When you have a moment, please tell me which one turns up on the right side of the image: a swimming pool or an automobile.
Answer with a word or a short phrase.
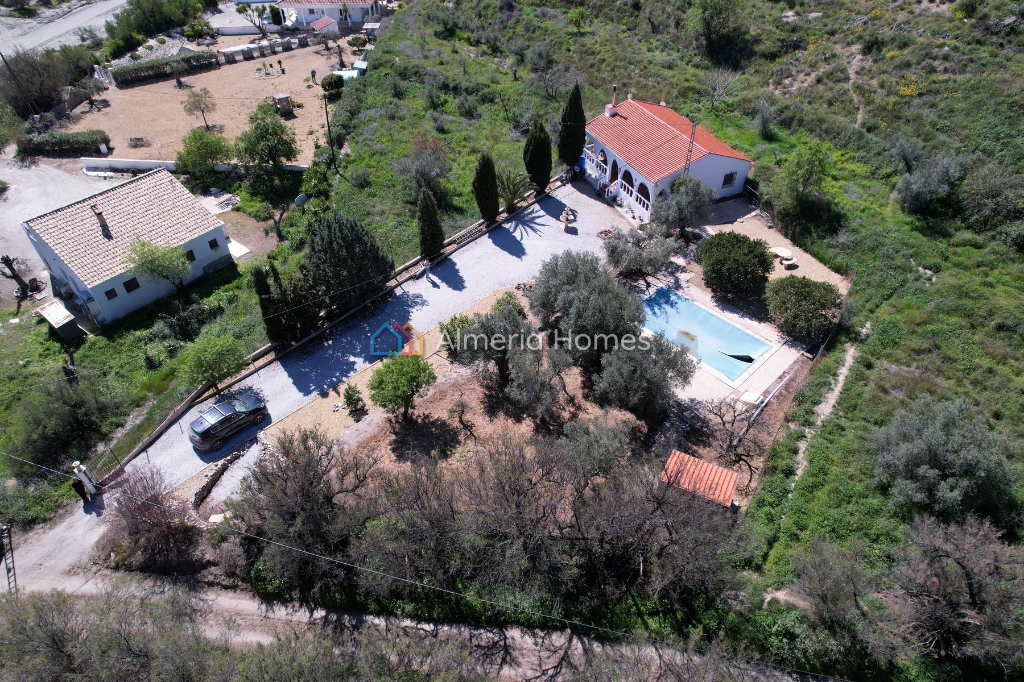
swimming pool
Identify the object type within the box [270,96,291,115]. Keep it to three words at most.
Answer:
shed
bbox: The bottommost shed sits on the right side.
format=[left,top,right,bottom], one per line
[662,447,743,519]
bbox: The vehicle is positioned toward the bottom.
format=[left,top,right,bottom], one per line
[185,394,269,450]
